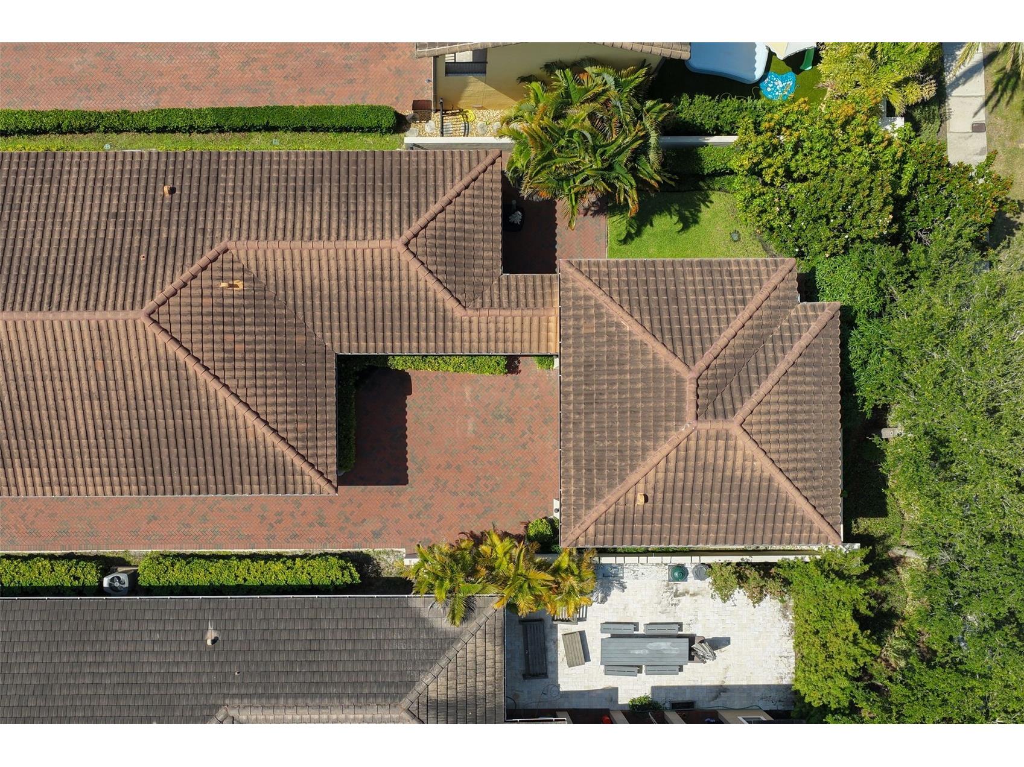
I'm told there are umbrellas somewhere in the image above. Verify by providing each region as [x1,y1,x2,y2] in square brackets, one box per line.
[688,640,721,669]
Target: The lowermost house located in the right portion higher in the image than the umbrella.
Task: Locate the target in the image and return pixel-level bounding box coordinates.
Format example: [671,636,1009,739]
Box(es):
[556,255,847,551]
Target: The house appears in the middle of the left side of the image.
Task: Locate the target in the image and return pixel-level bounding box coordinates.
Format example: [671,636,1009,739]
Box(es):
[0,146,557,499]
